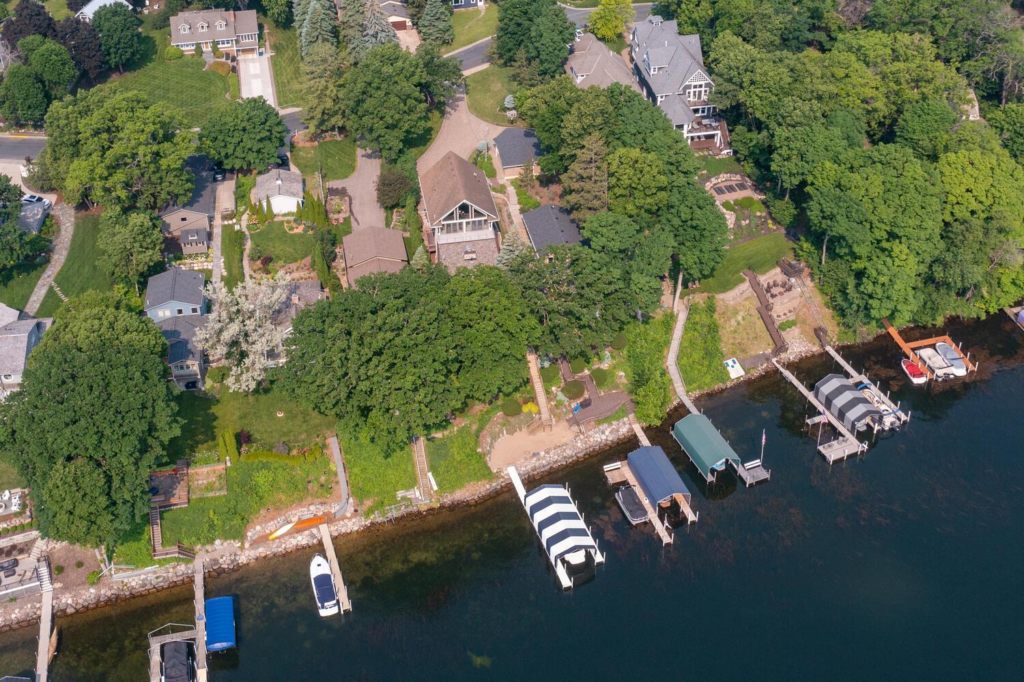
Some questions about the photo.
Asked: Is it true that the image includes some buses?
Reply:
No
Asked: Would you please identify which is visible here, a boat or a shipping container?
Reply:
boat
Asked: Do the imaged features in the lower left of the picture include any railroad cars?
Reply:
No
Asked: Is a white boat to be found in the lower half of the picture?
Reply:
Yes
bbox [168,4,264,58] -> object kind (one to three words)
house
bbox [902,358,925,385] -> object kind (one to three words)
boat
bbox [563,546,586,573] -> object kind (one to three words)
boat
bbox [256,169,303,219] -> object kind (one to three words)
building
